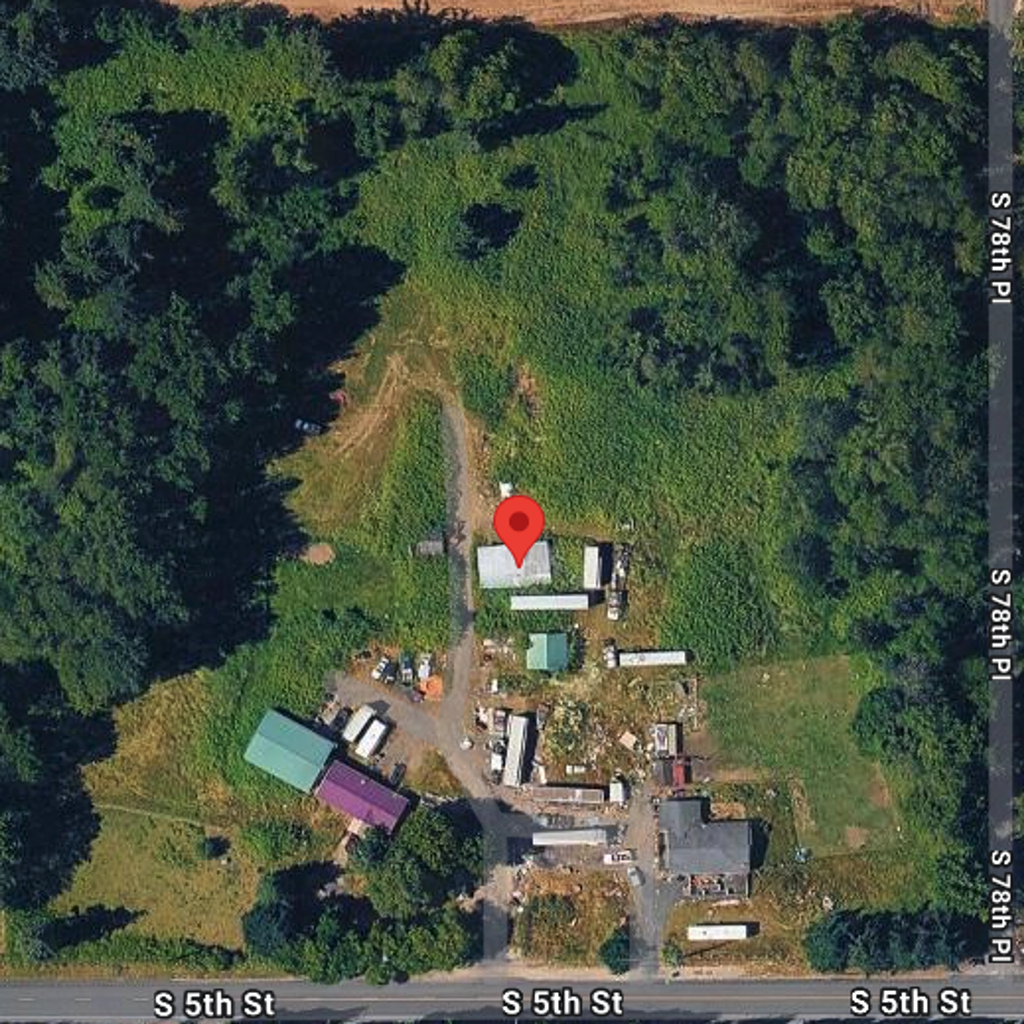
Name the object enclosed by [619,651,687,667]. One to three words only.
trailer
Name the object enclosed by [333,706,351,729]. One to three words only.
car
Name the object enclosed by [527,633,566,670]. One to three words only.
shed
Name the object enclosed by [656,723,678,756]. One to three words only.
shed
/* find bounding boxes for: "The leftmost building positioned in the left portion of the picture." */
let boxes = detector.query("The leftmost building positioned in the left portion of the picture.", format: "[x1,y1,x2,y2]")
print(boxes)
[244,709,337,793]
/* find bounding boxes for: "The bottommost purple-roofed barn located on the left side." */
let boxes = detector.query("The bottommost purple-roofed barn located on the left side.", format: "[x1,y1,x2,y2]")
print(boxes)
[315,760,408,834]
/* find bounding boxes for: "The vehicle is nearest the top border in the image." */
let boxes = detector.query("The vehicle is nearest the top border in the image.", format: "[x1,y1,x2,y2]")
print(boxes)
[294,419,321,431]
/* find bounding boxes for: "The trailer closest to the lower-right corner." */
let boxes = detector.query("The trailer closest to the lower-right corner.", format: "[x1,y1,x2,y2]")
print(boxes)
[688,925,748,939]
